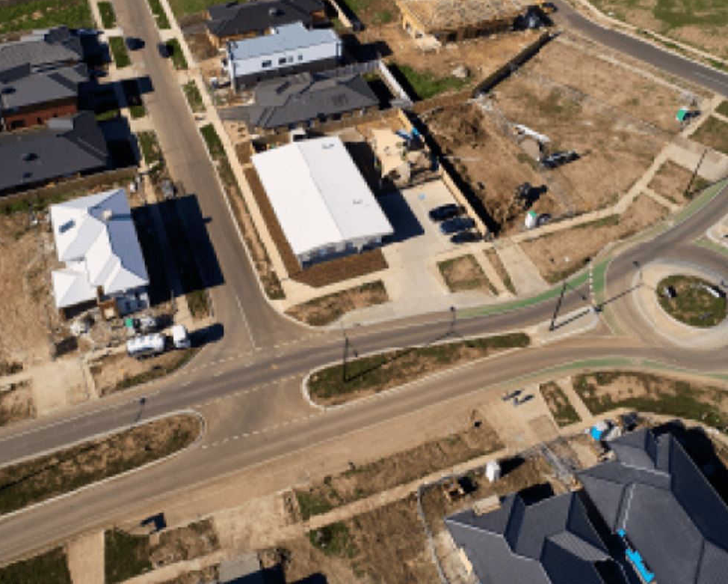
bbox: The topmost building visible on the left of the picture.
[203,0,326,44]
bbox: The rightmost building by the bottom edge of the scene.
[575,431,728,584]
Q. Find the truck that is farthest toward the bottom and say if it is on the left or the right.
left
